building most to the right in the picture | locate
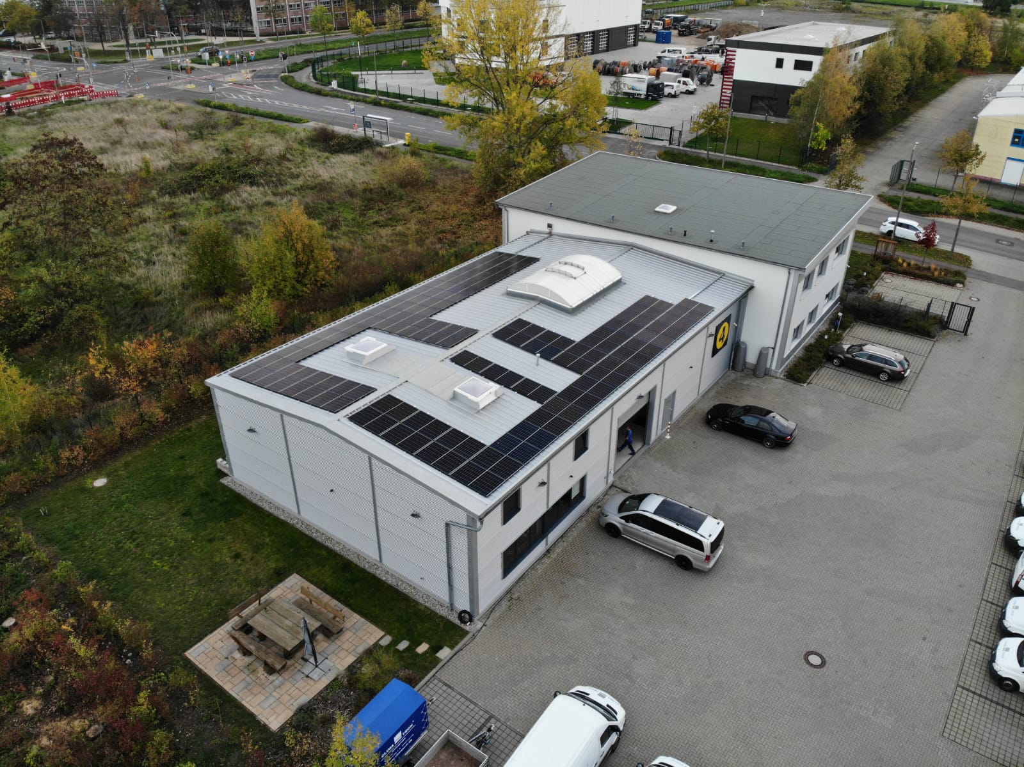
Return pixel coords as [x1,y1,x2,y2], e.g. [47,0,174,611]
[964,73,1024,183]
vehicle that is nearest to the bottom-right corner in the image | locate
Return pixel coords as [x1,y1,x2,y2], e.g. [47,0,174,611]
[986,645,1024,702]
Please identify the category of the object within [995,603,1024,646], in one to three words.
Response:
van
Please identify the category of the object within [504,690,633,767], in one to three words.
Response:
van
